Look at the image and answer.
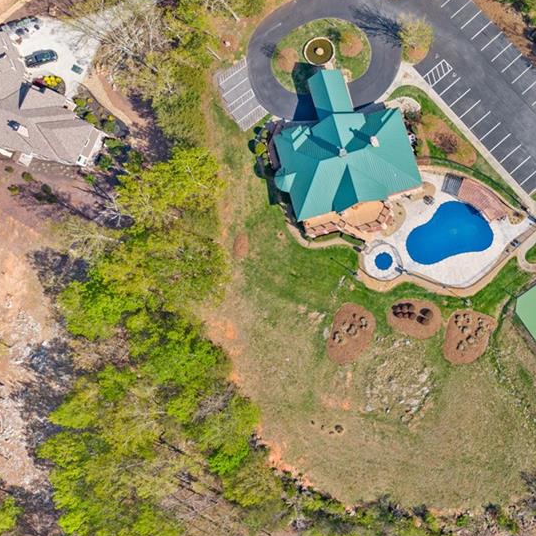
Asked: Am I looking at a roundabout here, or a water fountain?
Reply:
water fountain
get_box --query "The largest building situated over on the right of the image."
[274,70,422,220]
